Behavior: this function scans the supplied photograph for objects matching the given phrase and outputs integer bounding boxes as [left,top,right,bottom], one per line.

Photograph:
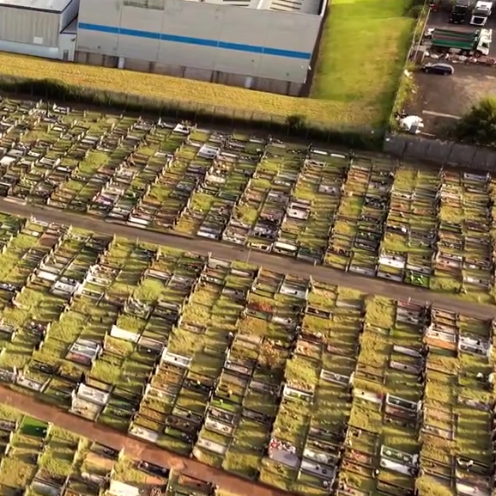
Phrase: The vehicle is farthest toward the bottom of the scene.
[424,61,456,74]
